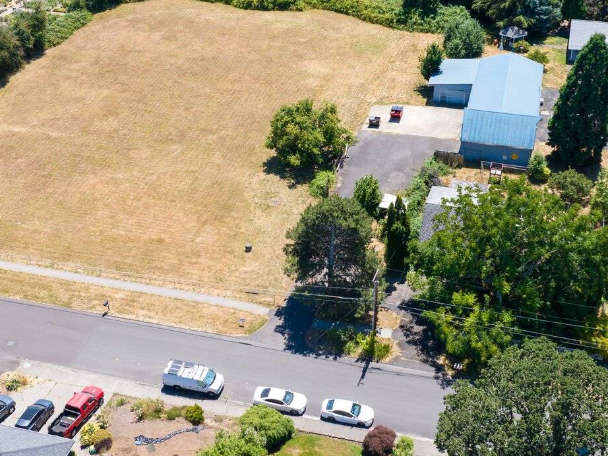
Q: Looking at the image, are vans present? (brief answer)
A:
Yes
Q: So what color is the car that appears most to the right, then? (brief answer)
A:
white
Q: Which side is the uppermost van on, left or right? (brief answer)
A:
left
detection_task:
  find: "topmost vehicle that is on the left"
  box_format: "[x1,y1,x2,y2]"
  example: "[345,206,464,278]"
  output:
[161,358,224,397]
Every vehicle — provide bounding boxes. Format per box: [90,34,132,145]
[13,394,57,433]
[0,392,15,417]
[161,358,224,397]
[252,387,307,415]
[319,399,375,428]
[50,388,101,440]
